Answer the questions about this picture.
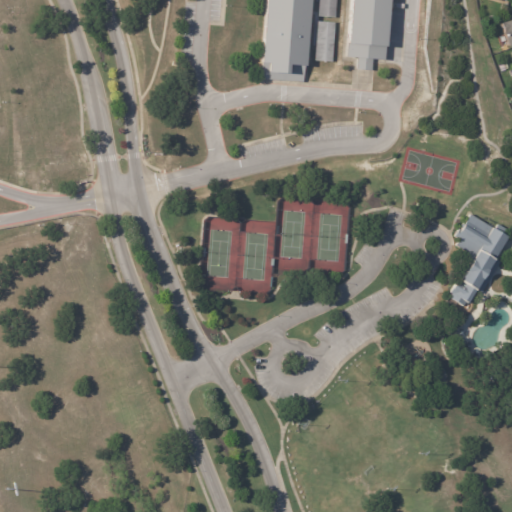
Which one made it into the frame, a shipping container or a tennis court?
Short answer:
tennis court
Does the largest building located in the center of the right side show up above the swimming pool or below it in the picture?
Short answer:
above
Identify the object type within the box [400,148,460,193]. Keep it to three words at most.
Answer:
basketball court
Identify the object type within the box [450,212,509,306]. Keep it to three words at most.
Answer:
building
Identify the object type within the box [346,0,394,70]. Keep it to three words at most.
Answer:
building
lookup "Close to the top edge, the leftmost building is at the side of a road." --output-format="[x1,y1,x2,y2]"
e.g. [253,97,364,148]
[262,0,314,82]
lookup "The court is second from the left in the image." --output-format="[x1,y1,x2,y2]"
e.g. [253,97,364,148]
[236,220,276,292]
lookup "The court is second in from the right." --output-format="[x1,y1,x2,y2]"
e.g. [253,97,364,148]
[310,204,350,272]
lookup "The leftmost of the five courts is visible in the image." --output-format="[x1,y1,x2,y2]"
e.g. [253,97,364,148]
[200,218,240,290]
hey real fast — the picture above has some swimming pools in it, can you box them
[467,301,512,354]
